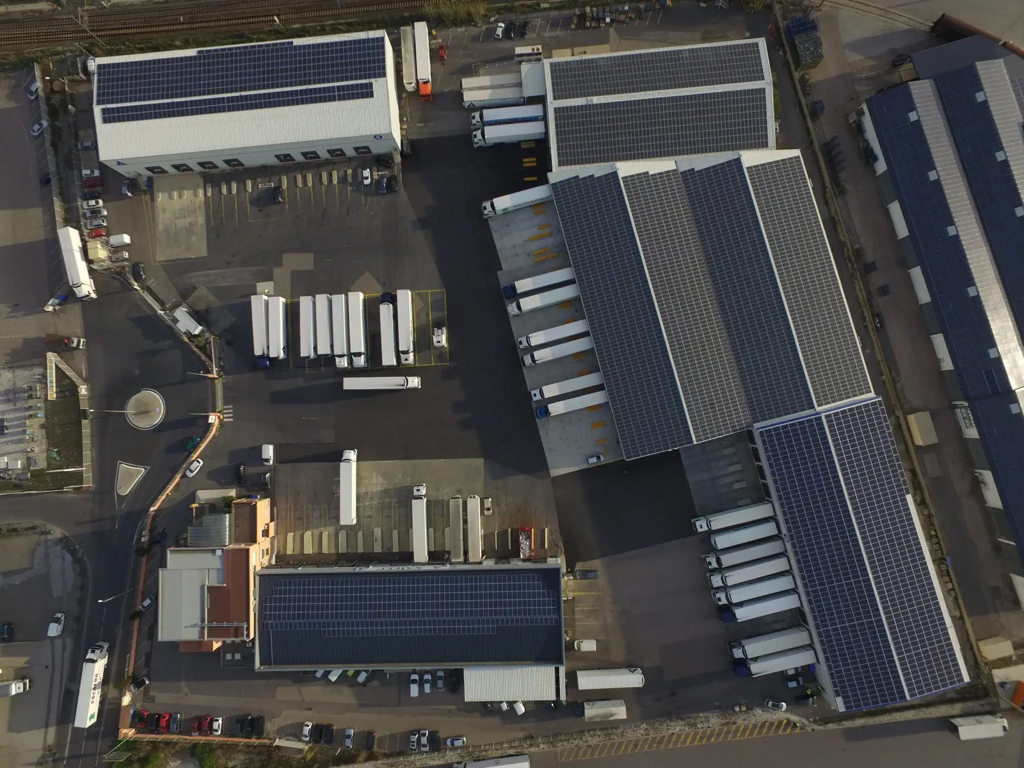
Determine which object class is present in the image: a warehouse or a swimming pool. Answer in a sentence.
The one in the frame is a warehouse.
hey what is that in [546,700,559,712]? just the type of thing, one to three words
vehicle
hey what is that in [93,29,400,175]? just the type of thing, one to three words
warehouse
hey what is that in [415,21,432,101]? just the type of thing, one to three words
vehicle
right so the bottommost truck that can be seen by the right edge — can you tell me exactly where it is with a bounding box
[949,716,1012,740]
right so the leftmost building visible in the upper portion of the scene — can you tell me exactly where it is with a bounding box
[87,241,108,261]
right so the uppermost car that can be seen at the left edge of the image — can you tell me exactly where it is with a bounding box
[26,81,41,98]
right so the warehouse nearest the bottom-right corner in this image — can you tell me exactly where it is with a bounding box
[744,395,971,713]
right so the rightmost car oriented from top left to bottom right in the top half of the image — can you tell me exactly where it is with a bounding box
[375,155,395,171]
